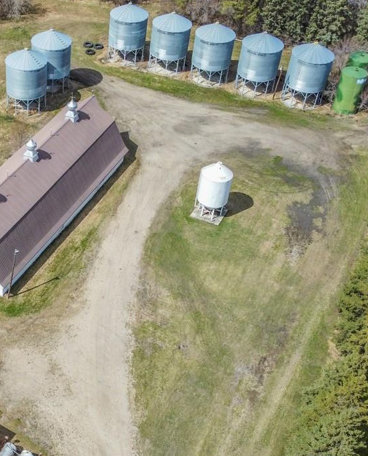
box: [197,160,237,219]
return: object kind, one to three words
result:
silo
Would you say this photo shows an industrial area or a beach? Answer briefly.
industrial area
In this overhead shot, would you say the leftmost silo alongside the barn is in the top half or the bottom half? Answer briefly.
top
